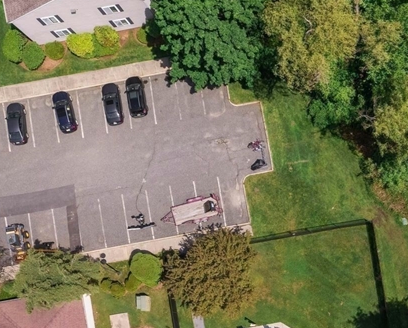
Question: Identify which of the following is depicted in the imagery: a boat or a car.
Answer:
car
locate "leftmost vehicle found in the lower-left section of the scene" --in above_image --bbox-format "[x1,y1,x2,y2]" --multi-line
[6,226,33,262]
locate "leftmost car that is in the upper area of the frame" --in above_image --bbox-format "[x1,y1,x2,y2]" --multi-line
[5,102,32,146]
